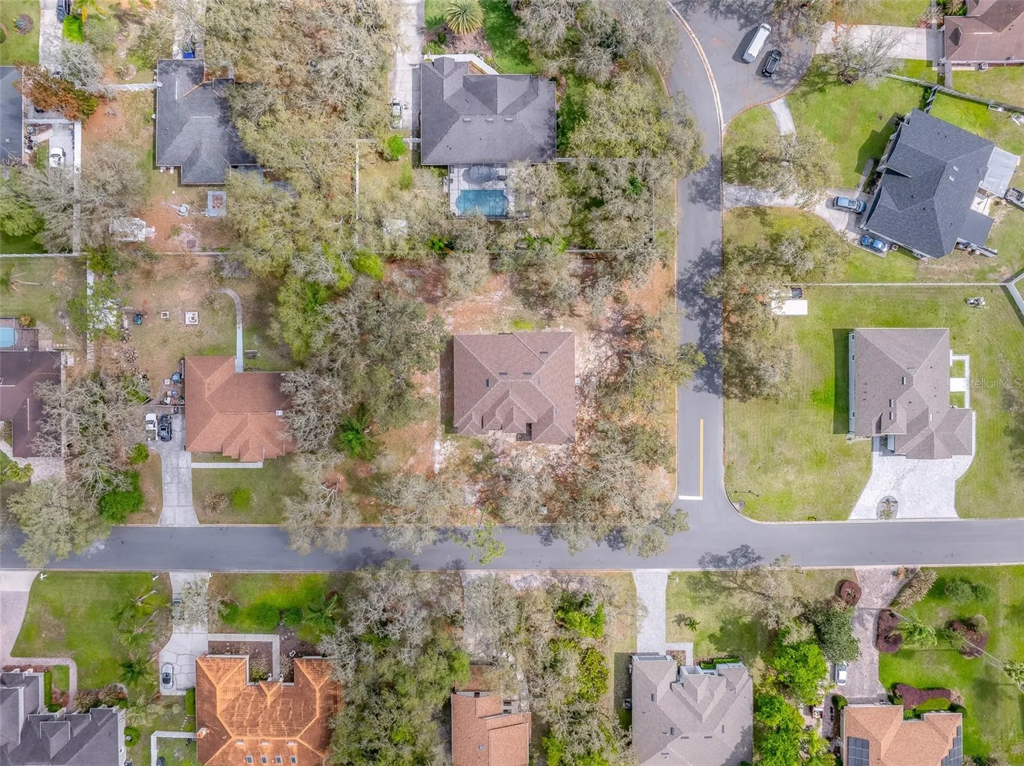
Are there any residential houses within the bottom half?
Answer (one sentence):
Yes, within the bottom half there is a residential house.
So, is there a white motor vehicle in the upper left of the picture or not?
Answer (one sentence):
Yes, a white motor vehicle can be seen in the upper left of the picture.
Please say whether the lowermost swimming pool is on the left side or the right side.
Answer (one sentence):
It is on the left.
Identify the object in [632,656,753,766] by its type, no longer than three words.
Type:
house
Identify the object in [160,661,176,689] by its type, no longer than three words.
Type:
car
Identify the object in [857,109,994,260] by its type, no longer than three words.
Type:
house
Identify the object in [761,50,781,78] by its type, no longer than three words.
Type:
car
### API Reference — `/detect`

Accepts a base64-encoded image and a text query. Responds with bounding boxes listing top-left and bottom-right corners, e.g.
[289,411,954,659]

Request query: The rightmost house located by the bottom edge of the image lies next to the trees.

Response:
[837,701,962,766]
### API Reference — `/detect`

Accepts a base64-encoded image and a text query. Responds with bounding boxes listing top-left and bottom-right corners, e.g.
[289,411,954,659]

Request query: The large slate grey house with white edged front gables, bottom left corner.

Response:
[0,669,125,766]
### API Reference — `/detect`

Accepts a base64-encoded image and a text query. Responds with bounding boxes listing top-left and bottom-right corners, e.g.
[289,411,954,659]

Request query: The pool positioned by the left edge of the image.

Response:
[0,322,21,351]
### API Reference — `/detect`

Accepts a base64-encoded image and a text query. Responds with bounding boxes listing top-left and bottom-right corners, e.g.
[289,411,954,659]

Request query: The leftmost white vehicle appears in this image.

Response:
[49,148,67,175]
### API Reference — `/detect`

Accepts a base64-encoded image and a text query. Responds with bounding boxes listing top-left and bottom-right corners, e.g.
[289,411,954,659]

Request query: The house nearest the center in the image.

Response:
[453,332,576,444]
